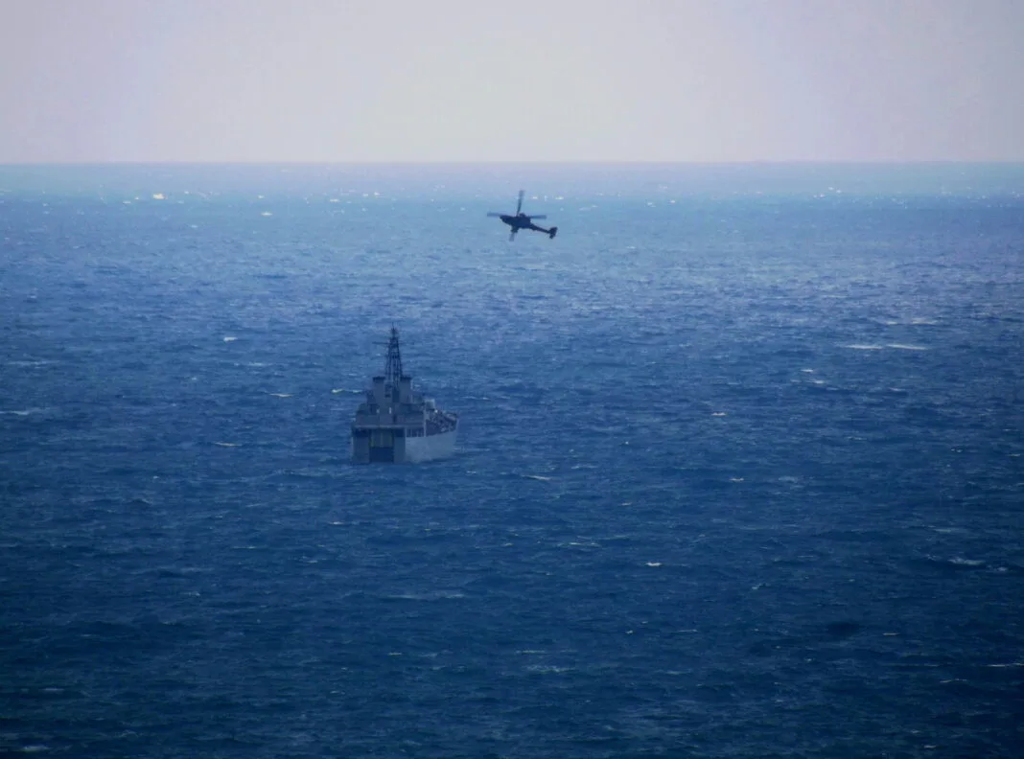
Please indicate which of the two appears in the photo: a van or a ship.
ship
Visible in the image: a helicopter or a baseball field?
helicopter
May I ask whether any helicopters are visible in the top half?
Yes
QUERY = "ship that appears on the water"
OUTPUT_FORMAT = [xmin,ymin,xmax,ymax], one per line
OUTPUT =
[350,322,458,463]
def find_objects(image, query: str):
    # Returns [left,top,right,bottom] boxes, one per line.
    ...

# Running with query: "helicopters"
[487,190,558,240]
